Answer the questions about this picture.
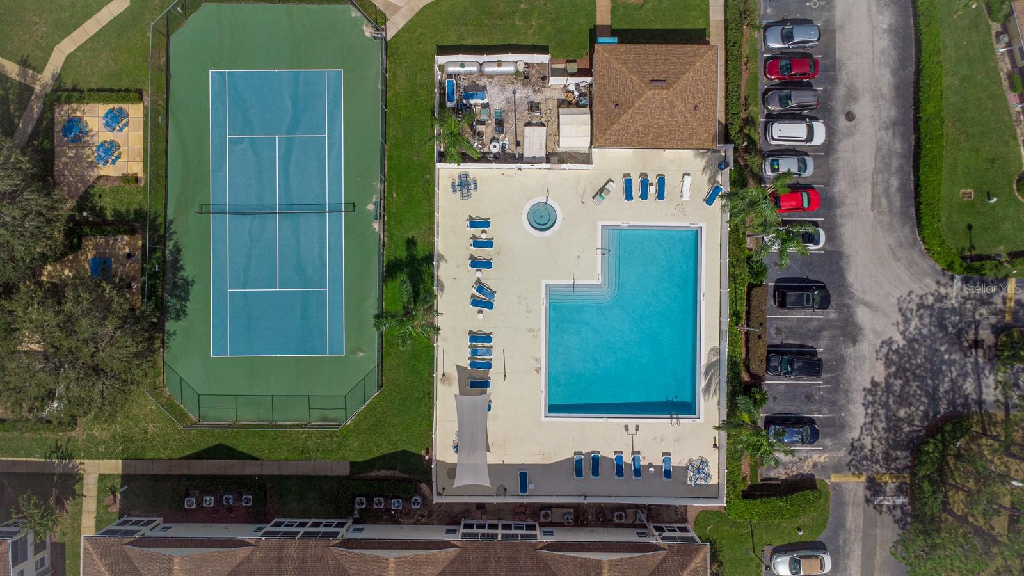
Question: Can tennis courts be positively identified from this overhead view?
Yes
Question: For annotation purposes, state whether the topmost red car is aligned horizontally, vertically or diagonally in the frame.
horizontally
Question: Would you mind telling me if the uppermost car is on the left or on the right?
right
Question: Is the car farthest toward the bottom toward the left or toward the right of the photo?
right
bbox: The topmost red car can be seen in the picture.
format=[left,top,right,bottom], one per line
[762,55,820,84]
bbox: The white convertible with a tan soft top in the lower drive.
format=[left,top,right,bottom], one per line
[770,548,831,576]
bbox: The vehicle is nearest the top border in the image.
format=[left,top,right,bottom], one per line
[763,22,822,52]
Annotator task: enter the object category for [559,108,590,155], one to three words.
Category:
shed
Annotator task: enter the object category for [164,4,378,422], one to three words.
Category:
tennis court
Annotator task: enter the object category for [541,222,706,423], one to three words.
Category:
swimming pool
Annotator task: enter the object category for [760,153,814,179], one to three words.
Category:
car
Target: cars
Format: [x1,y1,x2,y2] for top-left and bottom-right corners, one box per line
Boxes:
[761,85,824,114]
[765,352,827,380]
[770,421,820,448]
[766,118,825,147]
[772,283,830,310]
[762,55,820,84]
[770,548,831,576]
[760,153,814,179]
[767,188,821,214]
[791,225,825,251]
[763,22,822,52]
